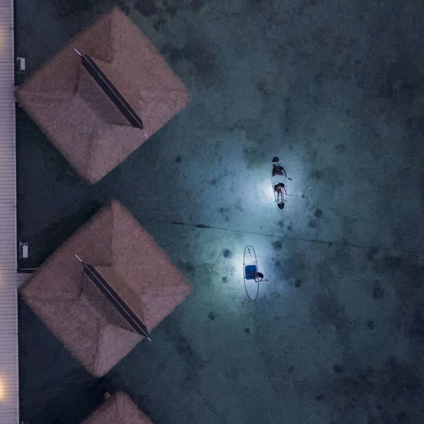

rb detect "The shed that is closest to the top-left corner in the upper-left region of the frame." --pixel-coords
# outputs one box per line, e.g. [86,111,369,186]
[14,6,191,182]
